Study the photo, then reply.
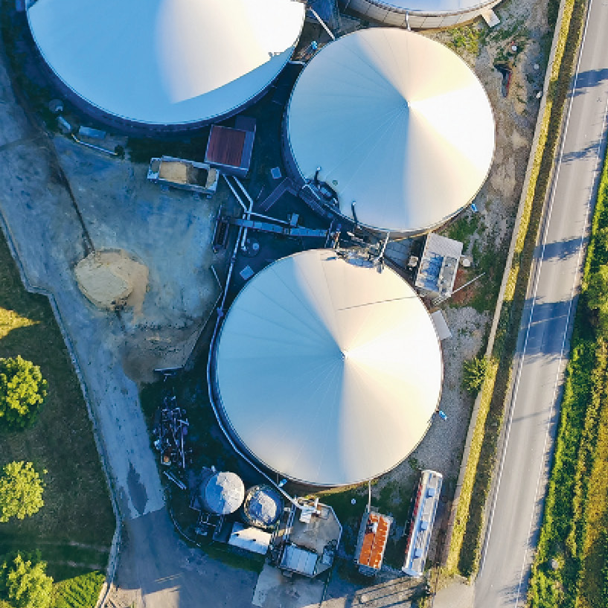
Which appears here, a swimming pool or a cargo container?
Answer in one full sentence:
The one in the frame is a cargo container.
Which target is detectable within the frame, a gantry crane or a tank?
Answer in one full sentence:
The one in the frame is a tank.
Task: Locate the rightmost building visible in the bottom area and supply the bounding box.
[229,523,270,557]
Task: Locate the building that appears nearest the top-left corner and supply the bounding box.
[204,124,255,175]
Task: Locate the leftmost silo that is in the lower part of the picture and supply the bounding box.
[196,465,247,516]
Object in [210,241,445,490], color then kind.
white storage tank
